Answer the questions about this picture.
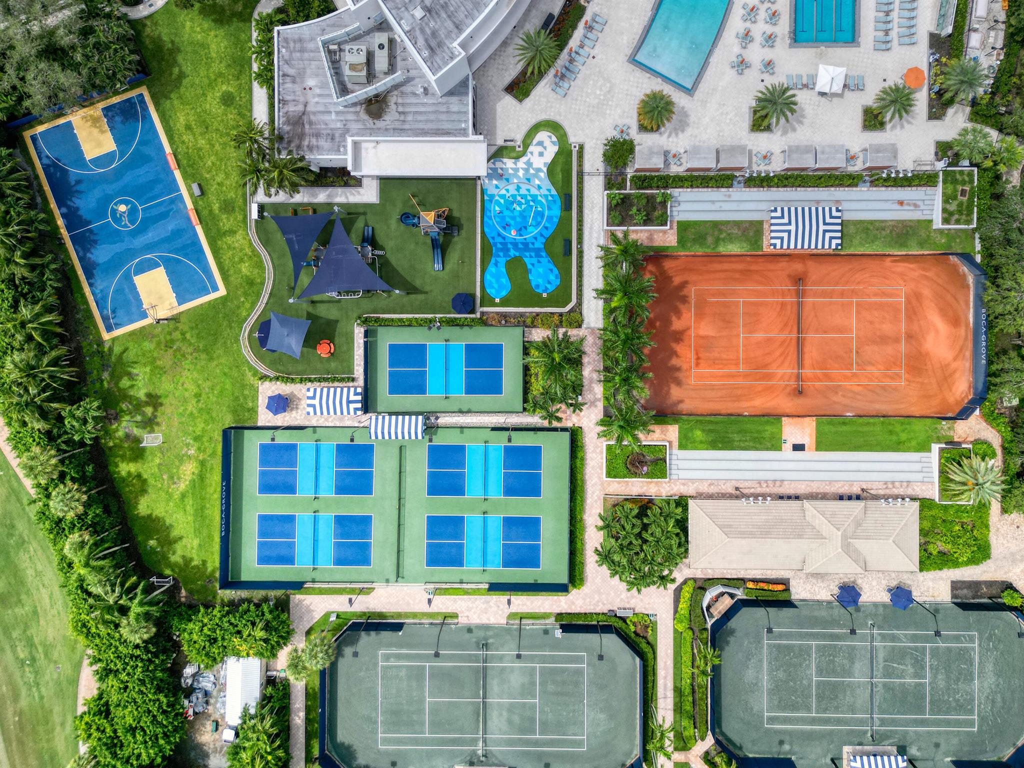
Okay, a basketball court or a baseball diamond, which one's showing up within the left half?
basketball court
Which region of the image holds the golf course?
bottom left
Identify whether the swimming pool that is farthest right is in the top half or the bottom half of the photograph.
top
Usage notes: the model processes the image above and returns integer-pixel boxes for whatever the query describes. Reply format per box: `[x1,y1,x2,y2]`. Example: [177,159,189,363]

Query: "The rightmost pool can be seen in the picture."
[789,0,861,48]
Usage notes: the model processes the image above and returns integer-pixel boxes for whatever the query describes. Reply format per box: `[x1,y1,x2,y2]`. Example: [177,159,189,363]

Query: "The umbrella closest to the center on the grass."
[452,292,473,314]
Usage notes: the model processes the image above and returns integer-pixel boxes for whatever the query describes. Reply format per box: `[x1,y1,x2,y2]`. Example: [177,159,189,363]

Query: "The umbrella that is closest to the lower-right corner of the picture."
[888,586,914,611]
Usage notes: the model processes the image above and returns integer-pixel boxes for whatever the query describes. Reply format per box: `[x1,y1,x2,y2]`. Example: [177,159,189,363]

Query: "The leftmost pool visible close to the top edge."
[628,0,734,97]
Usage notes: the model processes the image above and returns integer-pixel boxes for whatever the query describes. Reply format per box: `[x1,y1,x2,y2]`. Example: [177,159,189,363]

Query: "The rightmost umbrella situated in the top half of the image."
[901,66,926,88]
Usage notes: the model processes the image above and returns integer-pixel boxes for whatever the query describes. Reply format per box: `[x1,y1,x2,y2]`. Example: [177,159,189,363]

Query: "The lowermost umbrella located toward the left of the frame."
[265,392,289,416]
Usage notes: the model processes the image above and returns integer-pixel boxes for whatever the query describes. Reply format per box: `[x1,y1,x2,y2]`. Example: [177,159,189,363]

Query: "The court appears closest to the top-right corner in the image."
[641,254,973,416]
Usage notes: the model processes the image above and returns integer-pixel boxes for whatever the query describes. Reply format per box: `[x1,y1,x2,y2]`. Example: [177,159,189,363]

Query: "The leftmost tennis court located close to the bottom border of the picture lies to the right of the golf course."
[327,623,639,768]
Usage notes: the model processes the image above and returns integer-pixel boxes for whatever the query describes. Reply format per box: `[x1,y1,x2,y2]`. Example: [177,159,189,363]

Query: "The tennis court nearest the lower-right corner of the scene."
[716,598,1024,768]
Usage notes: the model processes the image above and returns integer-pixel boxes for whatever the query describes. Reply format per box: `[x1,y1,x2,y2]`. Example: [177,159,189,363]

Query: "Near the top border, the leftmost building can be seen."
[275,0,531,180]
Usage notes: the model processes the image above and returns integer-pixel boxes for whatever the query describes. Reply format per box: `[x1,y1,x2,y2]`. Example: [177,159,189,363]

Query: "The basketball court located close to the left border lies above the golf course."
[24,85,226,340]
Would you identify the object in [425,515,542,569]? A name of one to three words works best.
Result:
sports court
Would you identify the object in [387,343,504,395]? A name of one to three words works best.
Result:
sports court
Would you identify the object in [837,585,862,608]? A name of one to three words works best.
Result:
umbrella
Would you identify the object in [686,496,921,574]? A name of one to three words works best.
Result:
building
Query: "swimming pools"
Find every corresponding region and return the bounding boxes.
[789,0,861,48]
[628,0,734,97]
